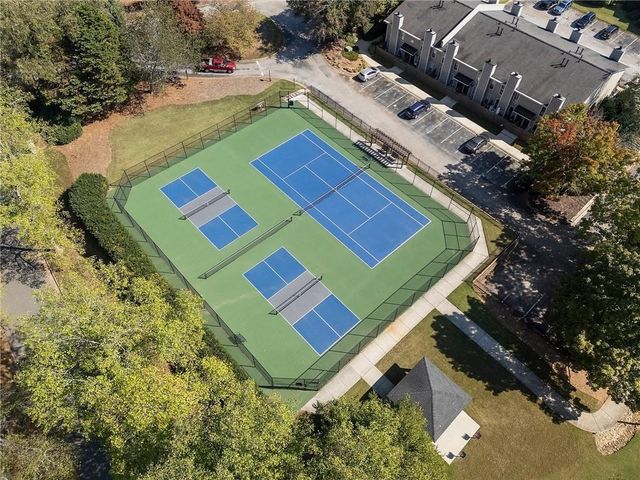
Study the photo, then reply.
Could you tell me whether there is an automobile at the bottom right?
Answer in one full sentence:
No, no automobile appears at the bottom right.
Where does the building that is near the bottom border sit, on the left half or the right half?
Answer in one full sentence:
You can find the building that is near the bottom border on the right side of the picture.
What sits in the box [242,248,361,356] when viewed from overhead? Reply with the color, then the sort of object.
blue sports court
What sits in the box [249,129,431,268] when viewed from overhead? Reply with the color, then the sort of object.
blue tennis court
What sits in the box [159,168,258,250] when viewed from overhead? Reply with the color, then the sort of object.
blue sports court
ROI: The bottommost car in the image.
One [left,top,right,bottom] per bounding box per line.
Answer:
[461,136,488,157]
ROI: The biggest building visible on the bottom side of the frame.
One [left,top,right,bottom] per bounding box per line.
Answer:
[385,356,481,464]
